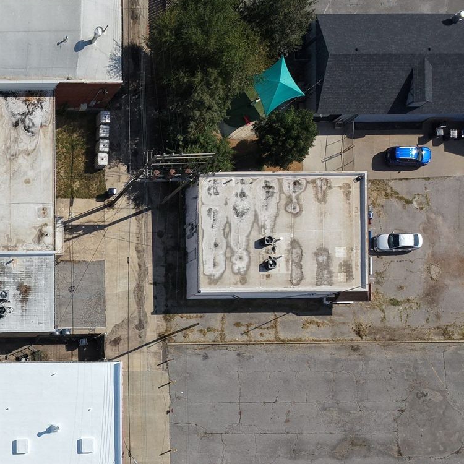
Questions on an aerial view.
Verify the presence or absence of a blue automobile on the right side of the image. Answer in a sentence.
Yes, there is a blue automobile on the right side of the image.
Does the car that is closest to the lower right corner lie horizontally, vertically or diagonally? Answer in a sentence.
From this overhead view, the car that is closest to the lower right corner appears to run horizontally.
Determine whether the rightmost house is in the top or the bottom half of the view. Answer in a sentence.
The rightmost house sits in the top half of the picture.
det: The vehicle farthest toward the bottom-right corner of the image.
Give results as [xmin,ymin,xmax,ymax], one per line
[370,230,425,254]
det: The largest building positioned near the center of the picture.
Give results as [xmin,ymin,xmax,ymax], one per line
[184,173,370,306]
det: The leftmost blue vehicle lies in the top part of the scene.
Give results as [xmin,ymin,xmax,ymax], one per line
[384,143,433,169]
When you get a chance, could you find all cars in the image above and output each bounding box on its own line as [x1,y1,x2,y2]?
[384,143,433,169]
[370,230,425,254]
